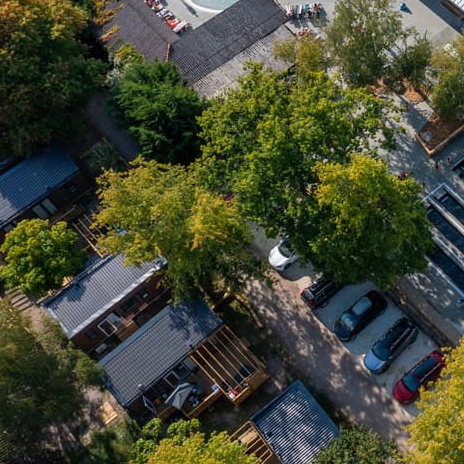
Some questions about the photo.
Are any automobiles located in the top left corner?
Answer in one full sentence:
No, there is no automobile in the top left corner.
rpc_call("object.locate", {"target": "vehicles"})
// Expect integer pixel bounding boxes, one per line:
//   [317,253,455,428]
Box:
[361,311,420,371]
[331,285,390,341]
[265,219,312,263]
[391,343,451,404]
[295,261,351,311]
